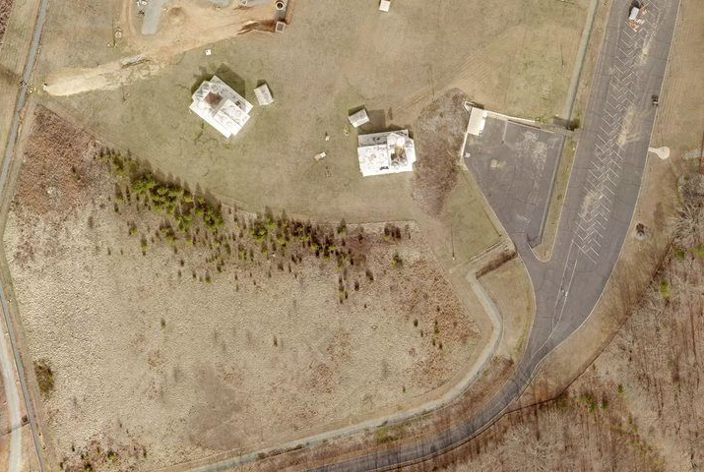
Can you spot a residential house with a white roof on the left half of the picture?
Yes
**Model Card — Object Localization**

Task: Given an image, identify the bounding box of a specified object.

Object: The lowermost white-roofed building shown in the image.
[358,130,417,176]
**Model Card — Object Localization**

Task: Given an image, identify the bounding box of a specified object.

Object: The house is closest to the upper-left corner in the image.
[189,75,253,138]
